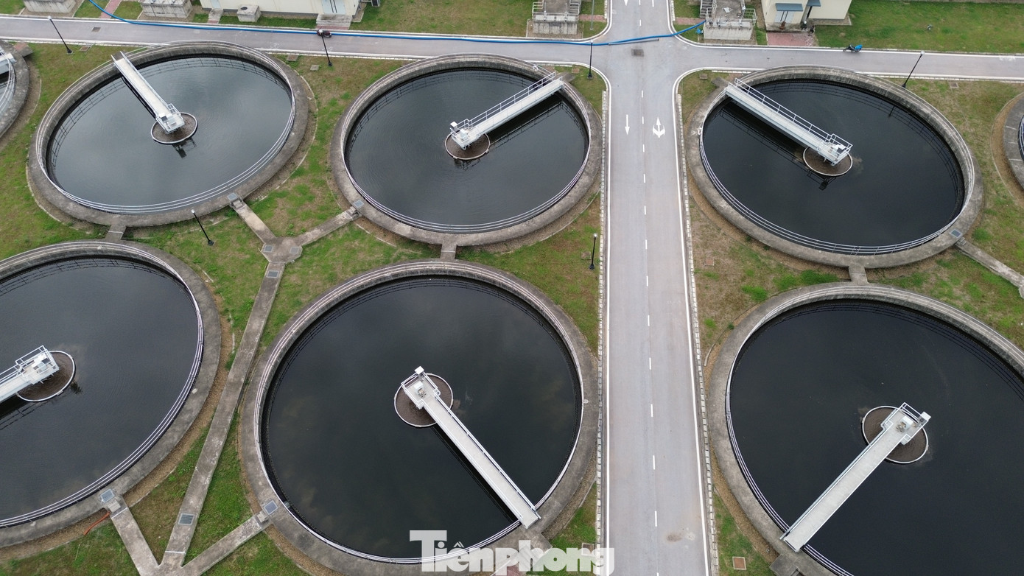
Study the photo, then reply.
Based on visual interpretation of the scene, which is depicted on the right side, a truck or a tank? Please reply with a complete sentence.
What appears on the right side is a tank.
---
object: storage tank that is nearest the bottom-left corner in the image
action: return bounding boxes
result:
[0,238,223,546]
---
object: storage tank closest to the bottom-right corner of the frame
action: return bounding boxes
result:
[707,281,1024,576]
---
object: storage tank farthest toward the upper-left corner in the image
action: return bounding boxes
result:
[0,40,36,138]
